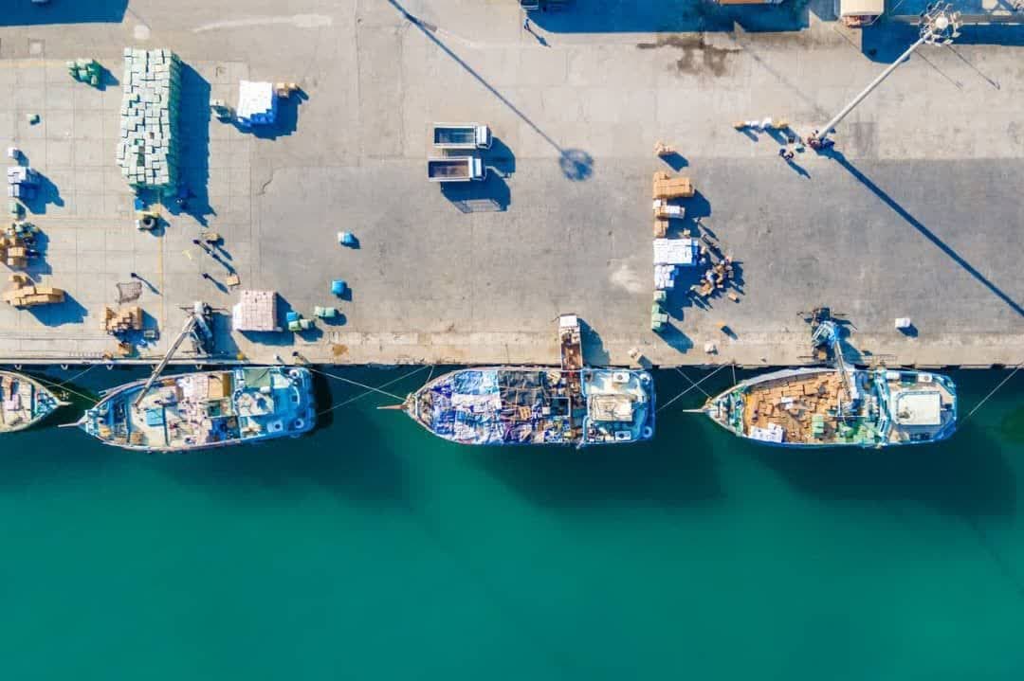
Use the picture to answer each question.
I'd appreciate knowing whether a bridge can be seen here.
No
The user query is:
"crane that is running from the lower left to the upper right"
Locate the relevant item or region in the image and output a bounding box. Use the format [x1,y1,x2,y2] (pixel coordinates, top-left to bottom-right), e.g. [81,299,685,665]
[136,296,226,408]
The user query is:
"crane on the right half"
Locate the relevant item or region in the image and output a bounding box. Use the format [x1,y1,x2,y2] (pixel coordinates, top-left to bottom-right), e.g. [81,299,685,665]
[806,303,854,404]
